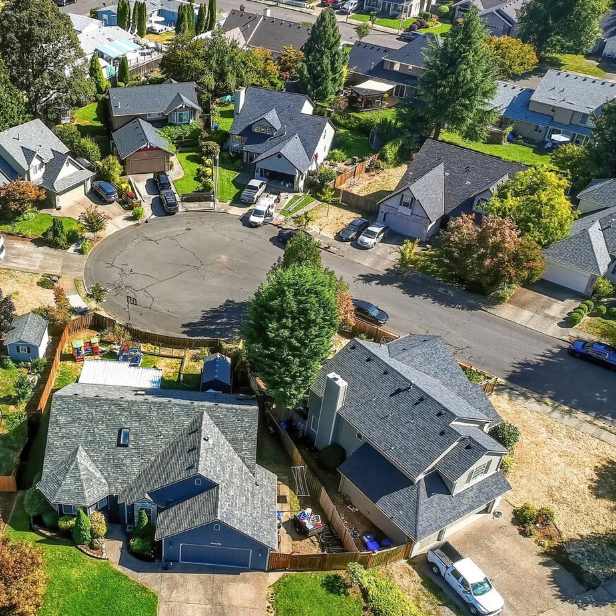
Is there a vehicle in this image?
Yes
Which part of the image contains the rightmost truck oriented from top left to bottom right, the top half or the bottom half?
bottom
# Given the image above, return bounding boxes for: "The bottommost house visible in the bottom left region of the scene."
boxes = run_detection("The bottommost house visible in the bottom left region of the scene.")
[38,384,281,571]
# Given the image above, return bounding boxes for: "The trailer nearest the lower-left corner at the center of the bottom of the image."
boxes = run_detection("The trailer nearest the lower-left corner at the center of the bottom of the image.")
[280,510,330,542]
